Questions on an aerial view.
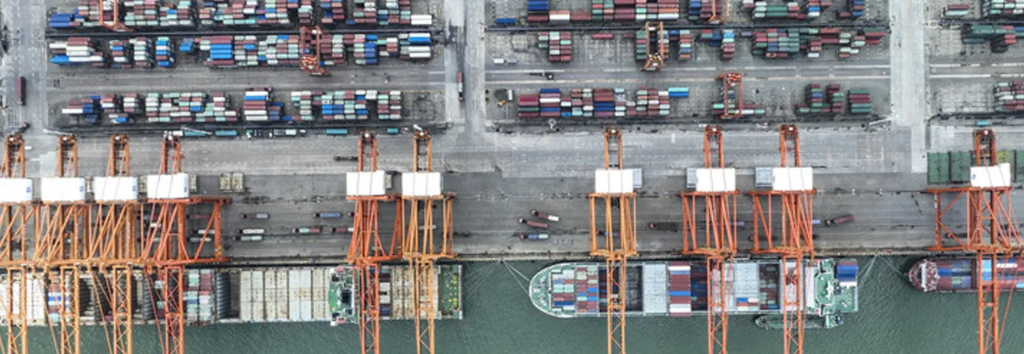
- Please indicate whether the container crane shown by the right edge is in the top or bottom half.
bottom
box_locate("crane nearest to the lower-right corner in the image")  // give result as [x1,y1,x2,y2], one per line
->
[921,120,1022,354]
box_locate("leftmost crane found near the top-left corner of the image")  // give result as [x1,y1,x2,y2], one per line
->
[98,0,141,38]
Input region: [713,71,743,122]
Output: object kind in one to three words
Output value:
container crane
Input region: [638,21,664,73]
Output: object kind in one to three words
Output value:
container crane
